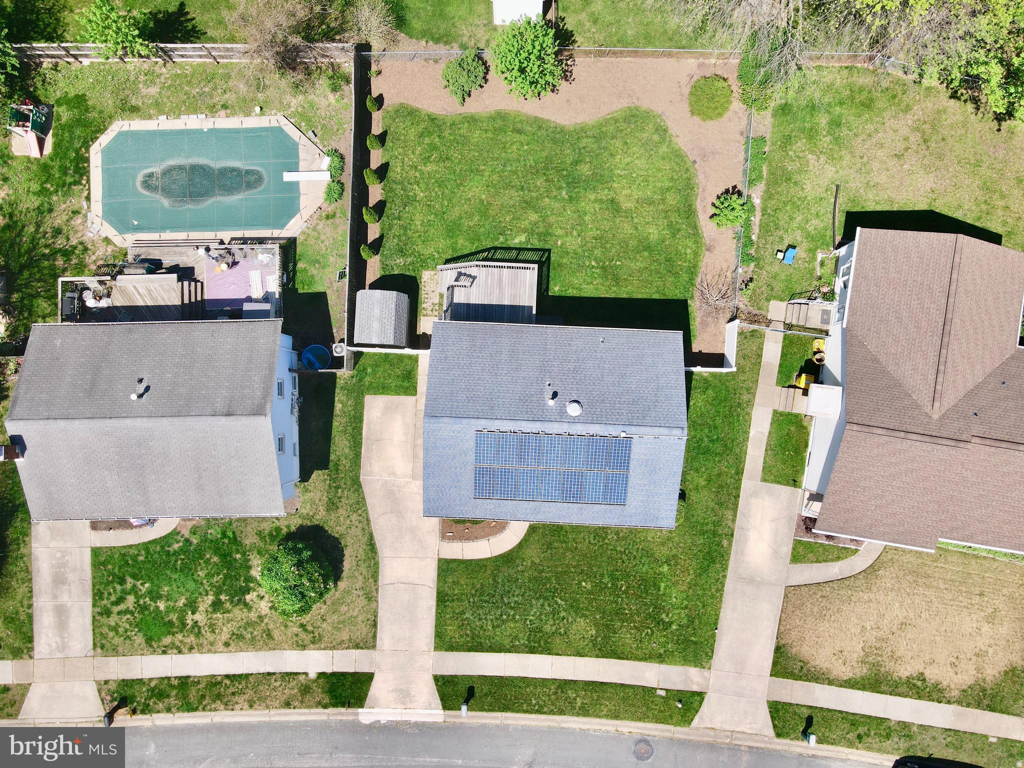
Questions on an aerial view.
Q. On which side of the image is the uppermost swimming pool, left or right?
left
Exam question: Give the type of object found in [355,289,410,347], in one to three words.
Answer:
shed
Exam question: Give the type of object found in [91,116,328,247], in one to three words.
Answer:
swimming pool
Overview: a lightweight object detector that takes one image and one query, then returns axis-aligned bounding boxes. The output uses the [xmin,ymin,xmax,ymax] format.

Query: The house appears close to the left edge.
[0,318,302,523]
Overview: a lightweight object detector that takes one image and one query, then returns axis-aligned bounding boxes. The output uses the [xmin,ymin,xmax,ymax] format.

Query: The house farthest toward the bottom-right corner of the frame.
[776,228,1024,554]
